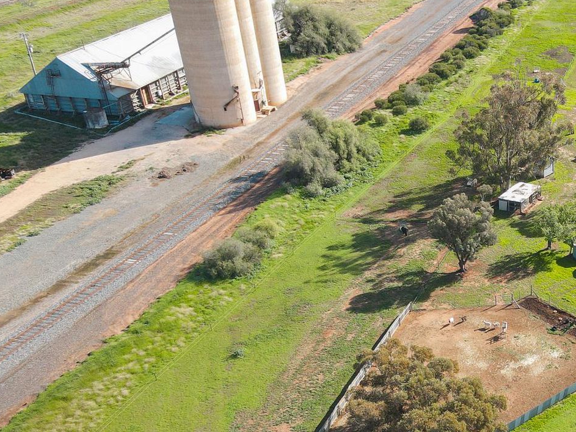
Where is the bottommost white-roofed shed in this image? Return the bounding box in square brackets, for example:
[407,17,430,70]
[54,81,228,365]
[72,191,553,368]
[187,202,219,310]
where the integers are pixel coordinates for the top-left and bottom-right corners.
[488,183,547,214]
